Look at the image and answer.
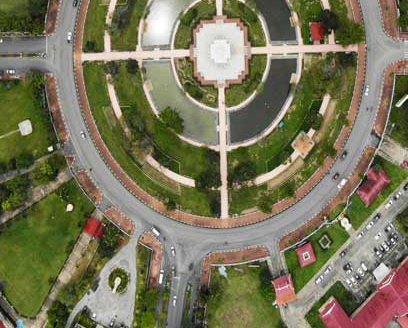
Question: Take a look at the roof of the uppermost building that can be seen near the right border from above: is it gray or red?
red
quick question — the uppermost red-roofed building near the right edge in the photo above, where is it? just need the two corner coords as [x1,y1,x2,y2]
[356,170,391,203]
